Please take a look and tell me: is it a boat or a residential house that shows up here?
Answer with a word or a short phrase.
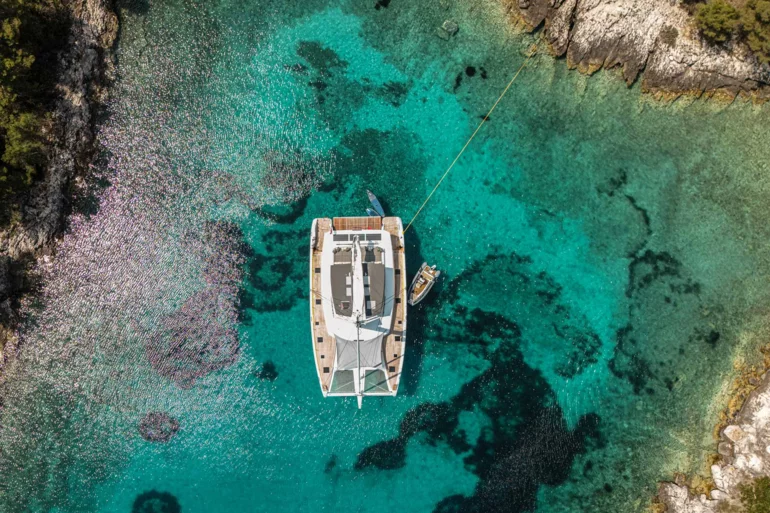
boat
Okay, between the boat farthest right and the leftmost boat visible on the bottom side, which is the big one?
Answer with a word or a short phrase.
the leftmost boat visible on the bottom side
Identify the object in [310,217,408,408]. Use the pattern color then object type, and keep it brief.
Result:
white boat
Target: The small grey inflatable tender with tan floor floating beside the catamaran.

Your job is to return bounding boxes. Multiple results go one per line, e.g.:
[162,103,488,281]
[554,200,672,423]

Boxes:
[408,263,439,305]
